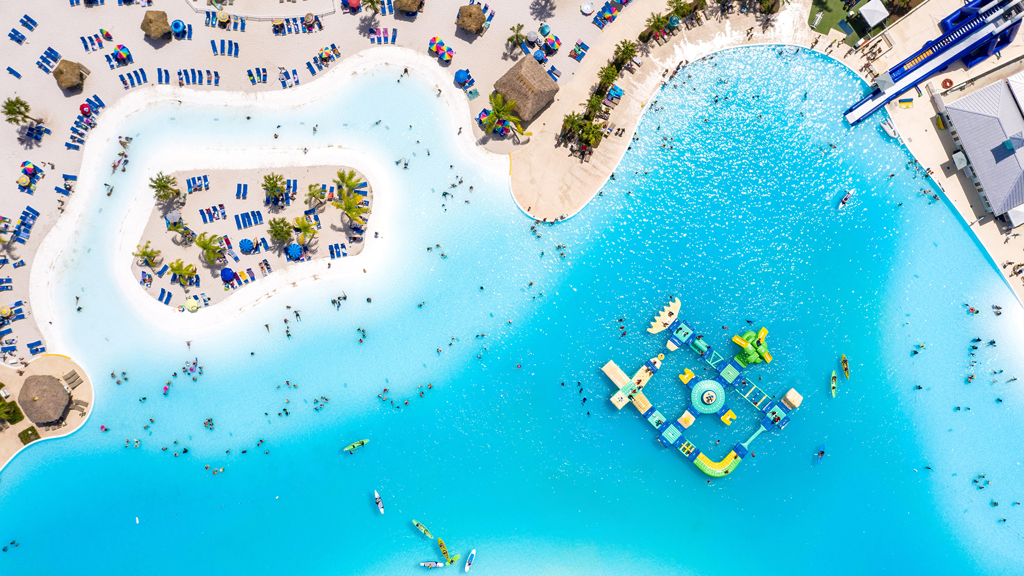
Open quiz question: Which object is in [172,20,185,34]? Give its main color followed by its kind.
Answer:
blue umbrella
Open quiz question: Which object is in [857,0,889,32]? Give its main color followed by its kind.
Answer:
white tent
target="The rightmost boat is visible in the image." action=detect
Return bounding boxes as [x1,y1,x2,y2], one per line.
[880,117,899,139]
